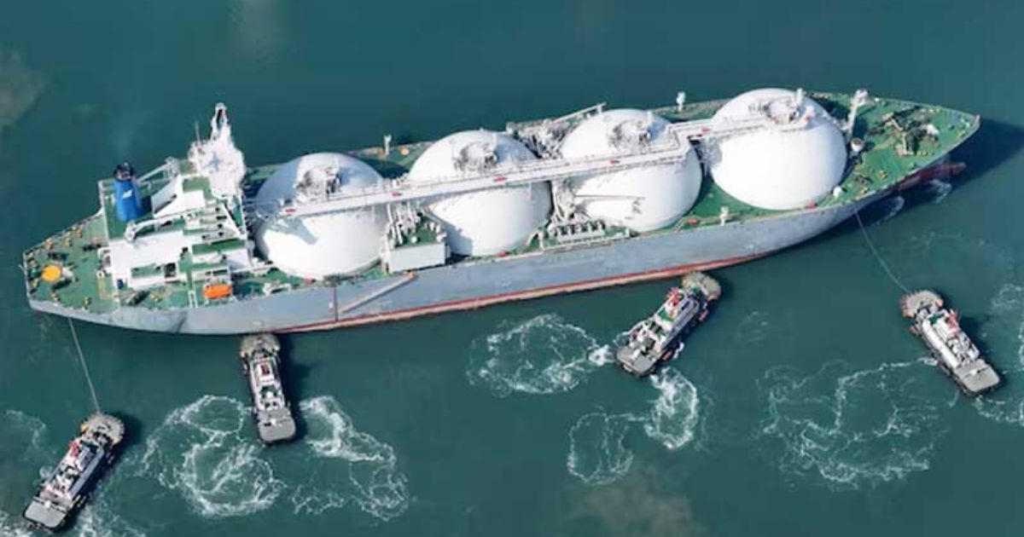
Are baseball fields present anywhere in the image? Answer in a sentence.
No, there isn't any baseball field down there.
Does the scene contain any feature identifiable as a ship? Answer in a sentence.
Yes, looking at the shot, I can spot a ship.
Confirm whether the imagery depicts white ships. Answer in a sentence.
Yes, the photo shows a white ship.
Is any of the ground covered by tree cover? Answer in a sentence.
No, tree cover can't be seen anywhere here.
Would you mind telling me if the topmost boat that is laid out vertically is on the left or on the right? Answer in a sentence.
The topmost boat that is laid out vertically appears in the left half of the scene.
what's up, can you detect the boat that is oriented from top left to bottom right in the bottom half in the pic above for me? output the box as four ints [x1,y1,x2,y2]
[907,286,1000,396]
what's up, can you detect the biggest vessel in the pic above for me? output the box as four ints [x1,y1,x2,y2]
[23,82,979,334]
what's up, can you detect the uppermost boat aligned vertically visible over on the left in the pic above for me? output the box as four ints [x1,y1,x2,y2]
[241,334,295,445]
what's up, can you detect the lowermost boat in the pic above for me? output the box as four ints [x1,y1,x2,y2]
[27,411,116,533]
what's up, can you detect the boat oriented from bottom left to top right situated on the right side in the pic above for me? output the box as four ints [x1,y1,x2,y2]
[619,270,716,381]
